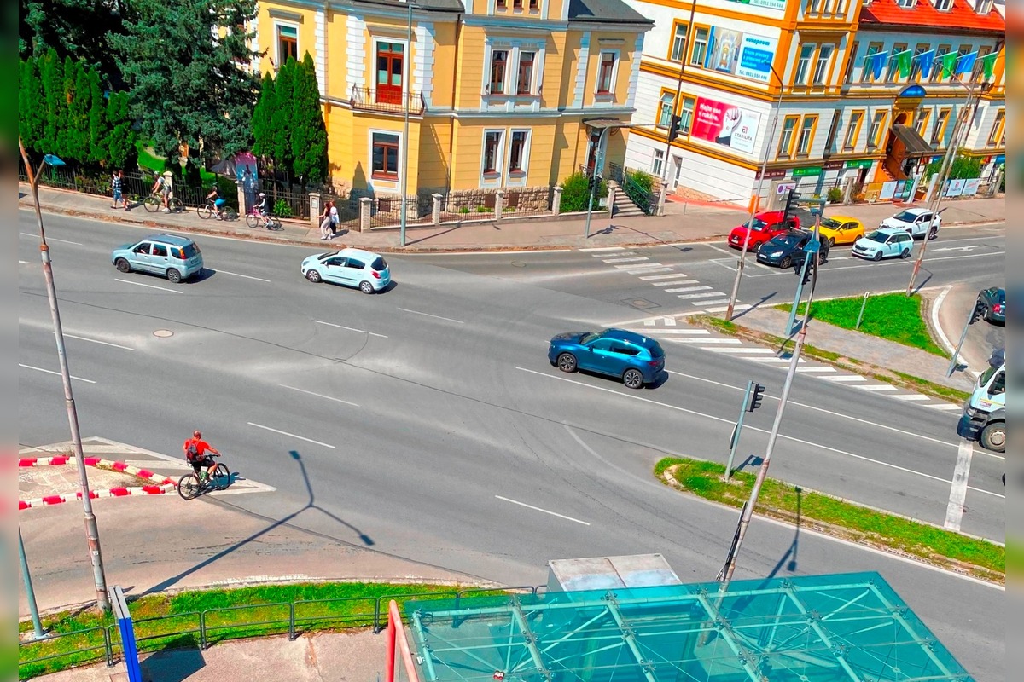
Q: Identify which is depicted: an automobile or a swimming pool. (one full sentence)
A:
The image shows an automobile.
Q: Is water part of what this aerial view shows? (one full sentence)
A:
No, no water is visible.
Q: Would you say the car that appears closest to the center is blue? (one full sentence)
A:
Yes, the car that appears closest to the center is blue.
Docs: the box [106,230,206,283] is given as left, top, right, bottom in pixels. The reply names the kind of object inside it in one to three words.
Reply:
car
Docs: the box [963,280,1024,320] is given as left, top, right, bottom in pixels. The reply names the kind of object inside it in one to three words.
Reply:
car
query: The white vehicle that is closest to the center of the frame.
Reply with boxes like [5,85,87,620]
[297,247,394,294]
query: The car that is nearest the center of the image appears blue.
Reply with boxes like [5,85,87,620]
[548,330,666,389]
